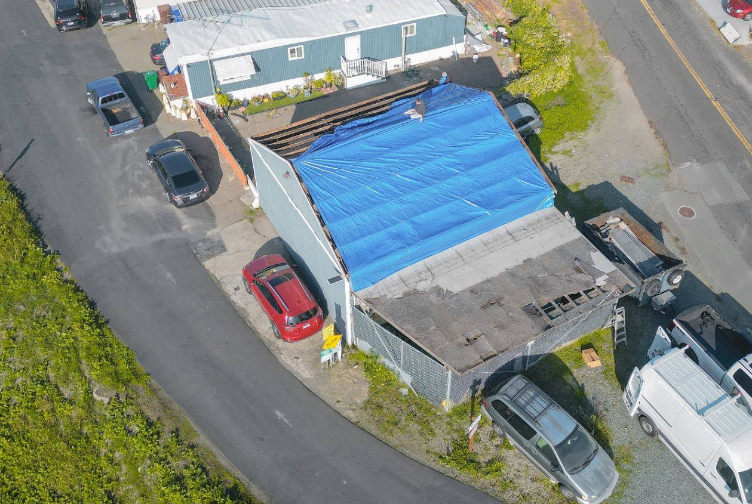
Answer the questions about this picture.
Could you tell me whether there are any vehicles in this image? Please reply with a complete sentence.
Yes, there is a vehicle in the image.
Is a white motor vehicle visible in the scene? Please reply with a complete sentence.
Yes, the frame does contain a white motor vehicle.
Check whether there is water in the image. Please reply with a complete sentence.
No, no water is visible.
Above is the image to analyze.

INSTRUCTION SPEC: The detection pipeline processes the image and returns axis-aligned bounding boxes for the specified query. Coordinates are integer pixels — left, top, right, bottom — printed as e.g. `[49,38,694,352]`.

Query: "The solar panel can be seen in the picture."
[328,265,345,287]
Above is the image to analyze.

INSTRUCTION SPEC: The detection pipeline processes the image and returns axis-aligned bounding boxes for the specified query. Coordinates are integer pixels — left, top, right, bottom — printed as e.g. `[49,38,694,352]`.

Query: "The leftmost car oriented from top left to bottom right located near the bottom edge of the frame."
[480,371,626,504]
